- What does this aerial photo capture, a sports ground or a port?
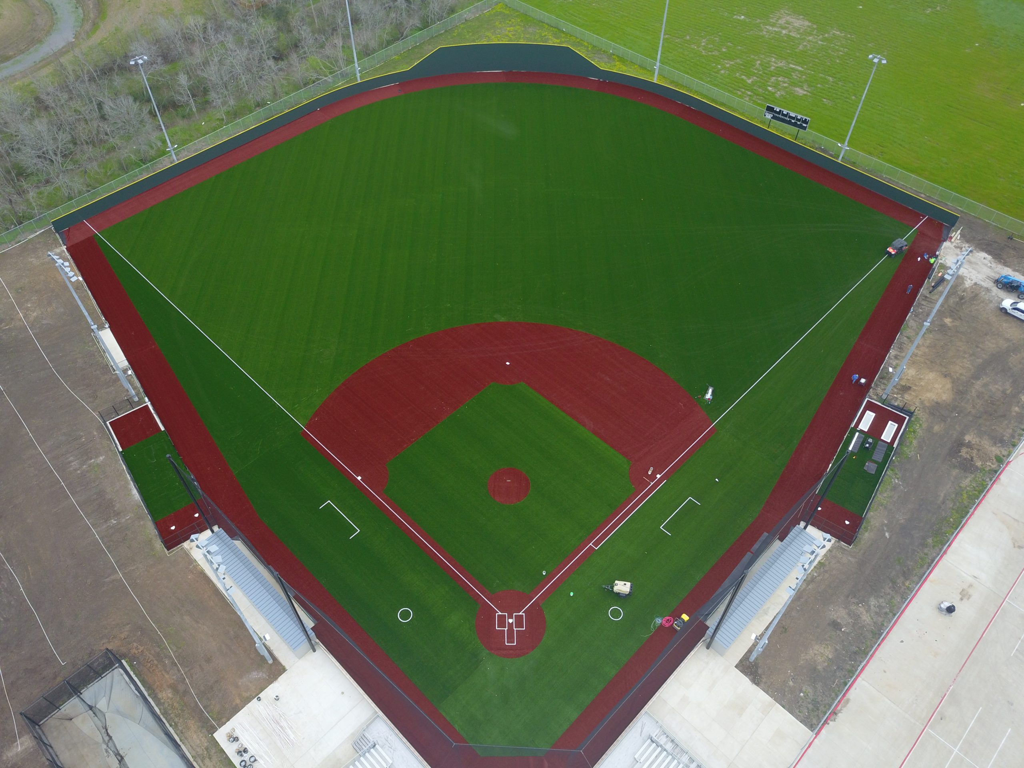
sports ground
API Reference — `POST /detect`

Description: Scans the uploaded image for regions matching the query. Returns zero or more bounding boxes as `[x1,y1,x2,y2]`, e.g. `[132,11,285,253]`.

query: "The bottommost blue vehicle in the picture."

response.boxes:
[986,275,1024,299]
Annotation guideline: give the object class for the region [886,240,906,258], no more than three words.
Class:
vehicle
